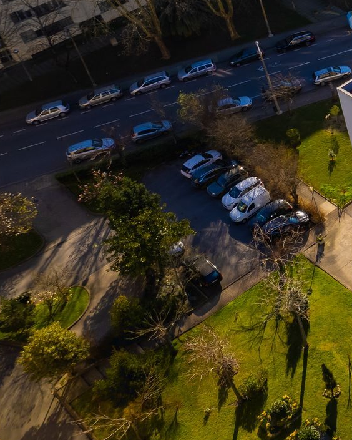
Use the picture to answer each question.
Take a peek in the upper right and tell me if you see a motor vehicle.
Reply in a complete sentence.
Yes, in the upper right there is a motor vehicle.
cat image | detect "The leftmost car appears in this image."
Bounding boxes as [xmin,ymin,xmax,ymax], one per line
[28,101,68,124]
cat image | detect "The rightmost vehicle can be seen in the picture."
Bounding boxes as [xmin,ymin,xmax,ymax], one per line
[312,64,352,85]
